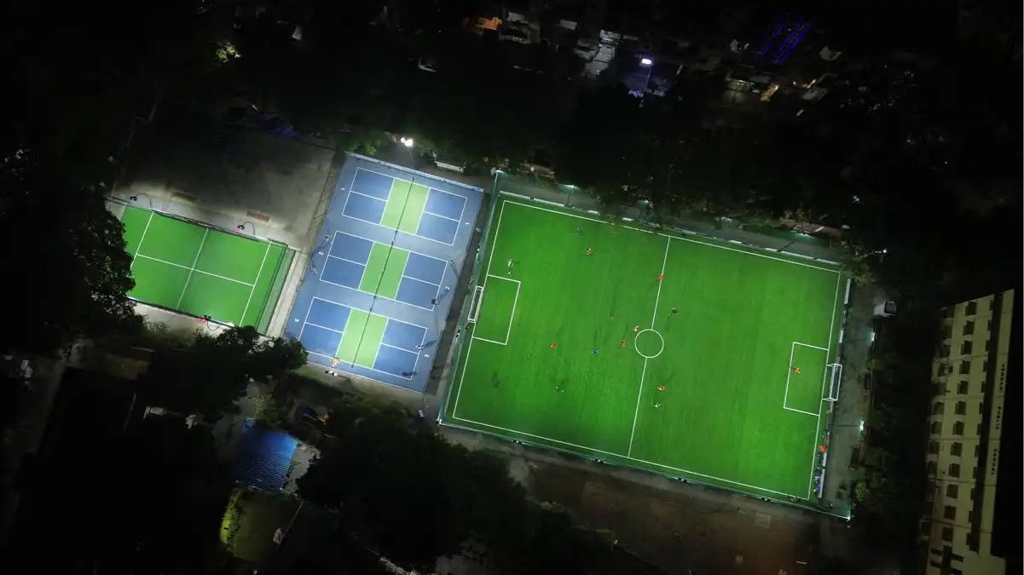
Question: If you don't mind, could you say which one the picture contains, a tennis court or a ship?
tennis court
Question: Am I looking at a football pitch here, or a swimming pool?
football pitch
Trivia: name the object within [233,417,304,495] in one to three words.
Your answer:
shed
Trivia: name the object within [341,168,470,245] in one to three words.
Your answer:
sports court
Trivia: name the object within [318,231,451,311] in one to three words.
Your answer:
sports court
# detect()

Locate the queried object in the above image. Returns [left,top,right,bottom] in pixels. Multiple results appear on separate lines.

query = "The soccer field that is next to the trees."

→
[443,193,848,509]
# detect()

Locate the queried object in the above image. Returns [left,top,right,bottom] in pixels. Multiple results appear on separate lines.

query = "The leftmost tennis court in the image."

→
[97,204,297,334]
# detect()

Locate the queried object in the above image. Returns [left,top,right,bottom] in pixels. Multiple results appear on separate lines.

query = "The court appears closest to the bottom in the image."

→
[295,296,430,380]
